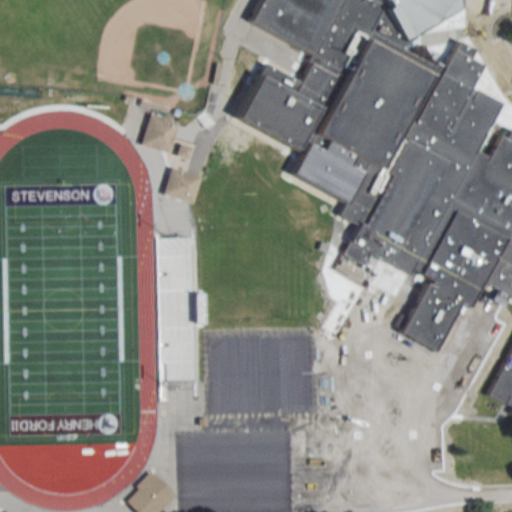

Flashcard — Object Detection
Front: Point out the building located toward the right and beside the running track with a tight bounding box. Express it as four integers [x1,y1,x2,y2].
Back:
[239,0,512,352]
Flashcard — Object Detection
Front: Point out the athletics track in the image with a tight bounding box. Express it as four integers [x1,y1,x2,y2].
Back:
[0,112,158,511]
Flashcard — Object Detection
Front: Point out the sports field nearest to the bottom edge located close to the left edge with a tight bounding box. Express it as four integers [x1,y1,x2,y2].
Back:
[0,129,140,493]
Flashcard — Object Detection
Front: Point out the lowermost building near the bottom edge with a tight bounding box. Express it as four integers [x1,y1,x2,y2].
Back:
[128,474,176,512]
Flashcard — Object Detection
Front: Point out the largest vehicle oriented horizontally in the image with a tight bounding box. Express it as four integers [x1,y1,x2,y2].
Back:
[344,416,372,428]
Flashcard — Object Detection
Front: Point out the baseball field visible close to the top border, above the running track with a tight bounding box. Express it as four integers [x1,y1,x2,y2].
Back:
[98,0,222,124]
